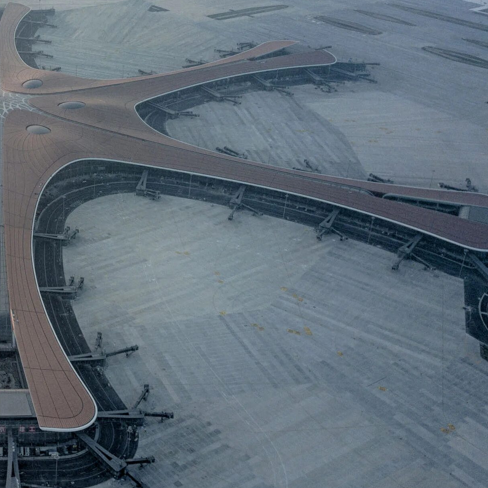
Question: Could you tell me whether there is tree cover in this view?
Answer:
No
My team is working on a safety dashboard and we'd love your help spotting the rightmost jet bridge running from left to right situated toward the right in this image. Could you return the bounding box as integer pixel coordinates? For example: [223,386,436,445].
[436,179,481,192]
